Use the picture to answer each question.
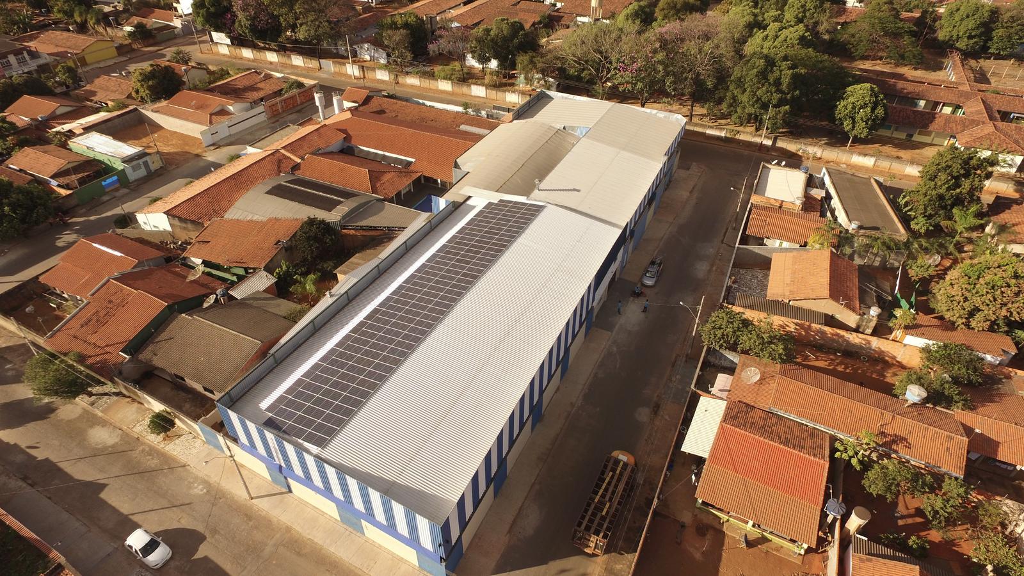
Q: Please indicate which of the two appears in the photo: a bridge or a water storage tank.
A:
water storage tank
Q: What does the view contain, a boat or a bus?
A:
bus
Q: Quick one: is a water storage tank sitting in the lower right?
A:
Yes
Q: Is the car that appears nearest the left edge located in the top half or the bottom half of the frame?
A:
bottom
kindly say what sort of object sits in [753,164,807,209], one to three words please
house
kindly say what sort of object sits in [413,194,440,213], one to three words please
swimming pool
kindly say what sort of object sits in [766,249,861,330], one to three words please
house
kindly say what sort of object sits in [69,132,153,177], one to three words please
building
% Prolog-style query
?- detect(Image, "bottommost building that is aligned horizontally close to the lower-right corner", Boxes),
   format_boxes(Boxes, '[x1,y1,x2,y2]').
[841,534,944,576]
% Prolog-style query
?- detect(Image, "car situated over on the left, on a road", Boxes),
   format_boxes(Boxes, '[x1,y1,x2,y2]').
[117,521,171,570]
